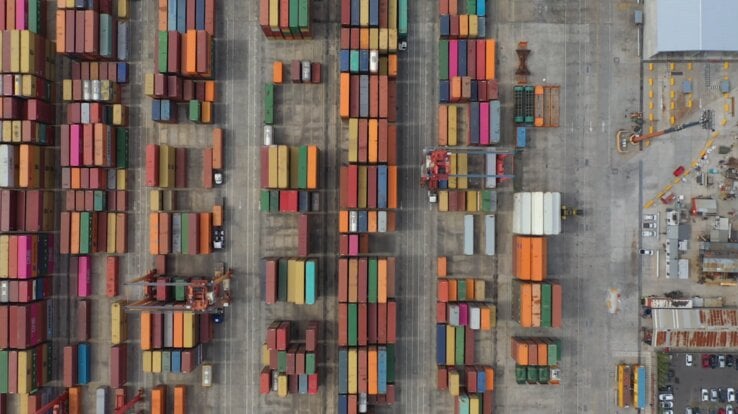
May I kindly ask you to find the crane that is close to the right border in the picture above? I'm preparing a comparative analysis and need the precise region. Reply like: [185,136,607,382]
[616,108,717,151]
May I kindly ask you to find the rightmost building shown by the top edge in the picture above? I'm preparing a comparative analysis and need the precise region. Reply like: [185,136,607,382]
[649,0,738,58]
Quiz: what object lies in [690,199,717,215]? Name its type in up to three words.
shed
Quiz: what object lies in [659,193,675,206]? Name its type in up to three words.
vehicle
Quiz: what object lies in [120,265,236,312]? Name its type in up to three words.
container crane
